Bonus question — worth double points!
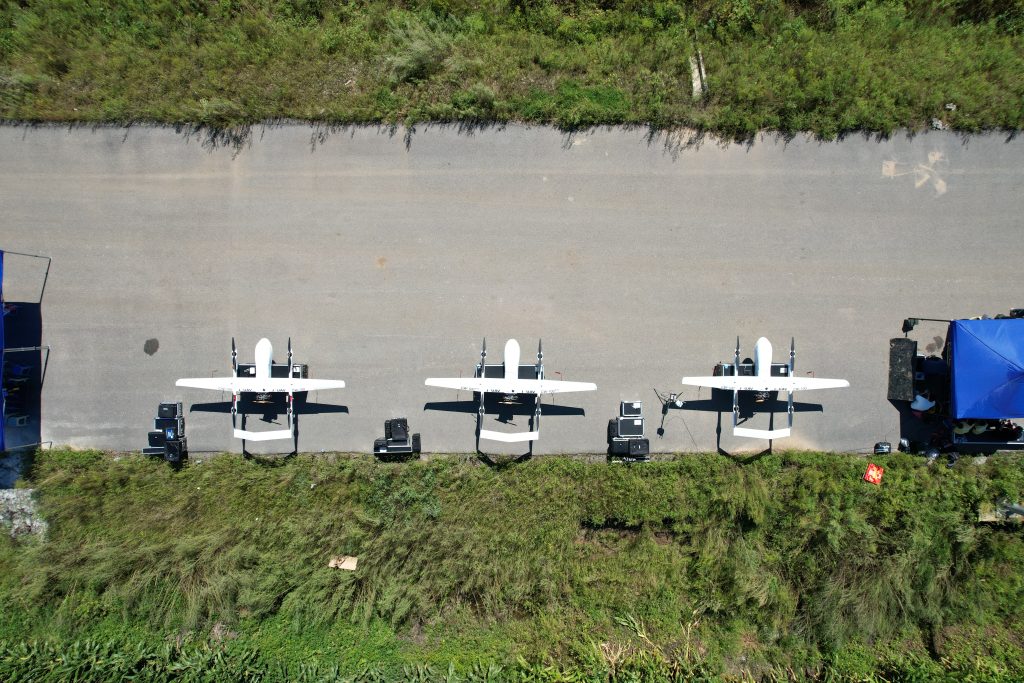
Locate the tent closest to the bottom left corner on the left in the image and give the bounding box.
[0,348,52,455]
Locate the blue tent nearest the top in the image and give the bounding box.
[0,249,50,351]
